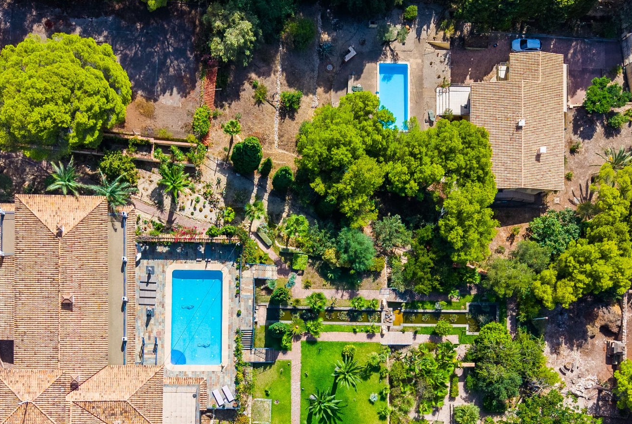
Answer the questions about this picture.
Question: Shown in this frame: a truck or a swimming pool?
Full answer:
It is a swimming pool that can be seen here.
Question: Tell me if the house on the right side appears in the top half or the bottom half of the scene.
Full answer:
The top half of the photo is where the house on the right side is.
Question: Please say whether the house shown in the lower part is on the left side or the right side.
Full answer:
It is on the left.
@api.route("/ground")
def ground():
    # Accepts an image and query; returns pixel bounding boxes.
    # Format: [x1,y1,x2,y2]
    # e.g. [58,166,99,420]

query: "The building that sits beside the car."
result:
[434,51,568,206]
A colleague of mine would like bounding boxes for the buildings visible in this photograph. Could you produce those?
[0,193,207,424]
[434,51,568,206]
